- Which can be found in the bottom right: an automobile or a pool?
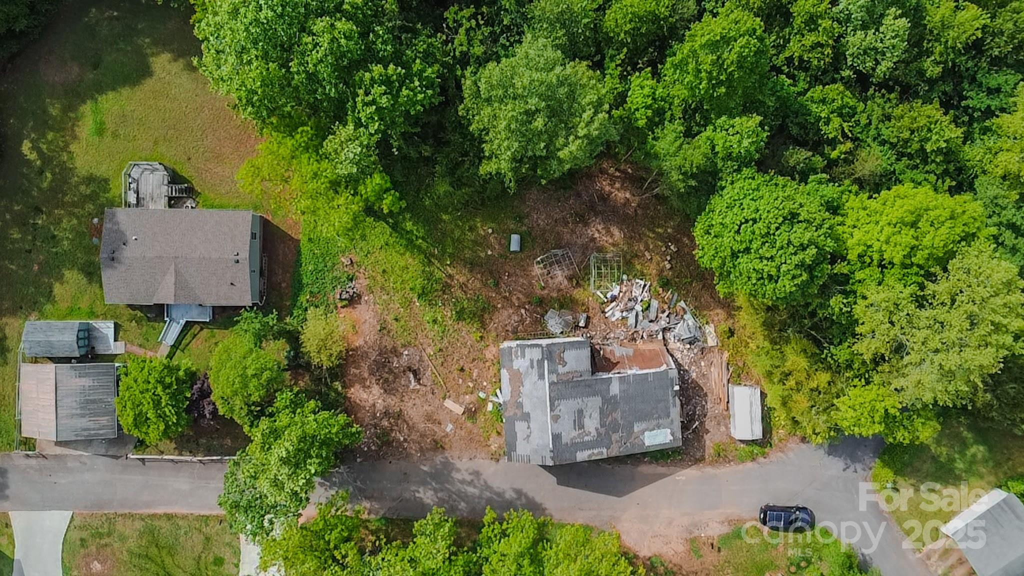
automobile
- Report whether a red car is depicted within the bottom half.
No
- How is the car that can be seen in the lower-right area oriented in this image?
from side to side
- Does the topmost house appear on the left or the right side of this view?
left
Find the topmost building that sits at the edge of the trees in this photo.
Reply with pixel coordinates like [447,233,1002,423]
[98,208,263,306]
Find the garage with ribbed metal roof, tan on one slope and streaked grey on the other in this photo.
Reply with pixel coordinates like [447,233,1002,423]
[20,363,133,444]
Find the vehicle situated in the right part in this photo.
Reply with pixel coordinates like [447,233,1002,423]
[758,503,816,534]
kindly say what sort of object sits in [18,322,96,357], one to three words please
shed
